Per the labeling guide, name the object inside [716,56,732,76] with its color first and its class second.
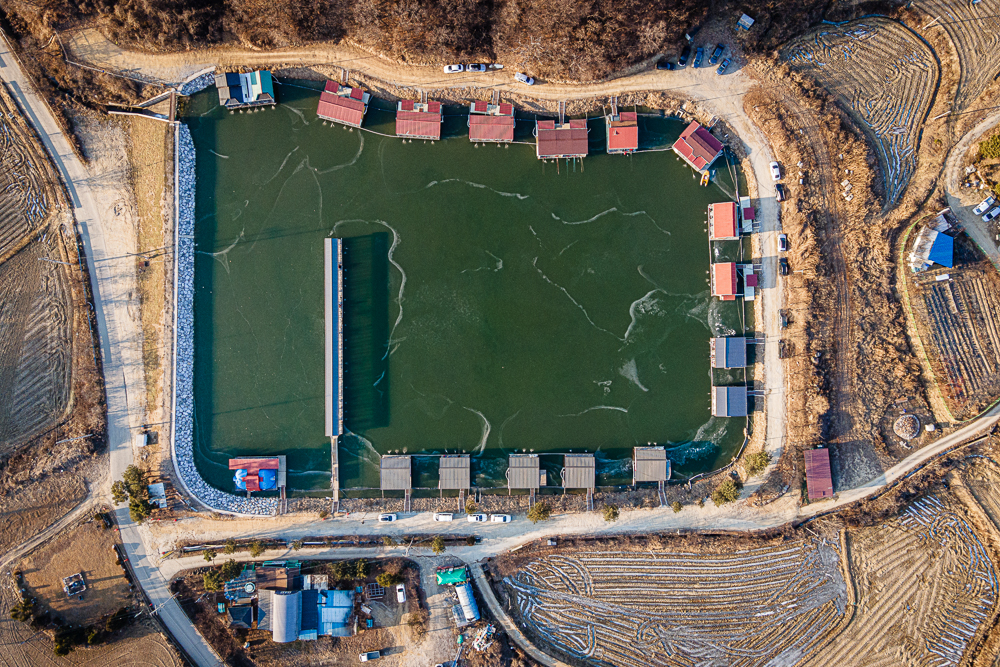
blue car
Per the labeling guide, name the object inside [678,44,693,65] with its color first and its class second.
black car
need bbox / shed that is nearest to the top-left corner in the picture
[219,74,280,113]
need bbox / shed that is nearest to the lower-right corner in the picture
[798,446,833,498]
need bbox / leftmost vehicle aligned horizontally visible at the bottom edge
[357,650,380,664]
